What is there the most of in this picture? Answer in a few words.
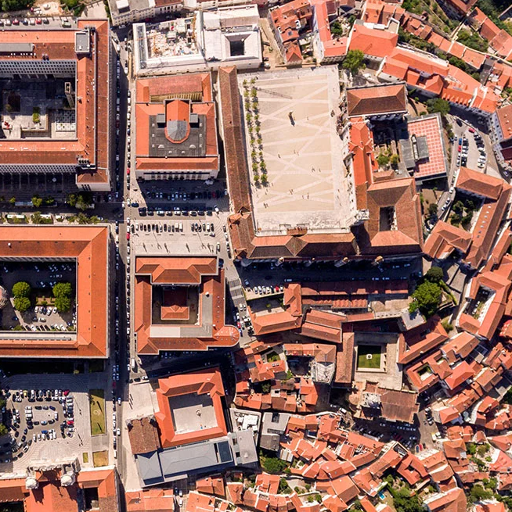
buildings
